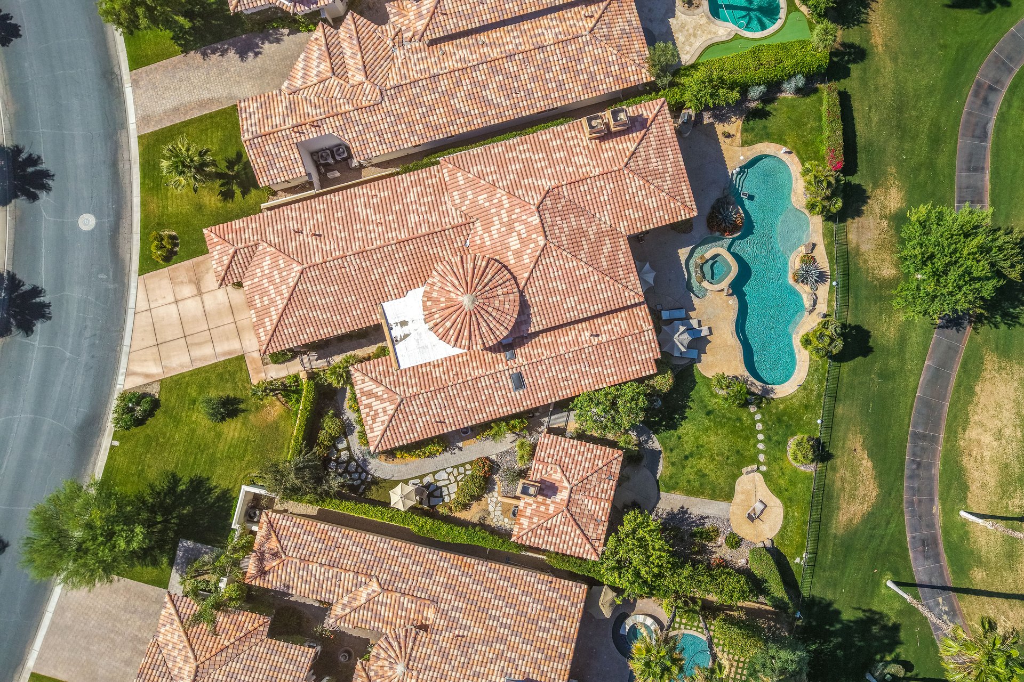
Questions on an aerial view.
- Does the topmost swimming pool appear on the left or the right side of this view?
right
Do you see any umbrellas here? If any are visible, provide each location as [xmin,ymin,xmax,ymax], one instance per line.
[635,259,657,291]
[585,587,620,620]
[657,321,694,357]
[391,482,416,511]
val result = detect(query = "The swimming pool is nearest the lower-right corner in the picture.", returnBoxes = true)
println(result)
[654,628,716,682]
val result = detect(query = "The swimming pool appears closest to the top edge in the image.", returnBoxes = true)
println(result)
[690,0,788,64]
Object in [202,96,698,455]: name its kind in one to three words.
house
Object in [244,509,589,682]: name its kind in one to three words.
house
